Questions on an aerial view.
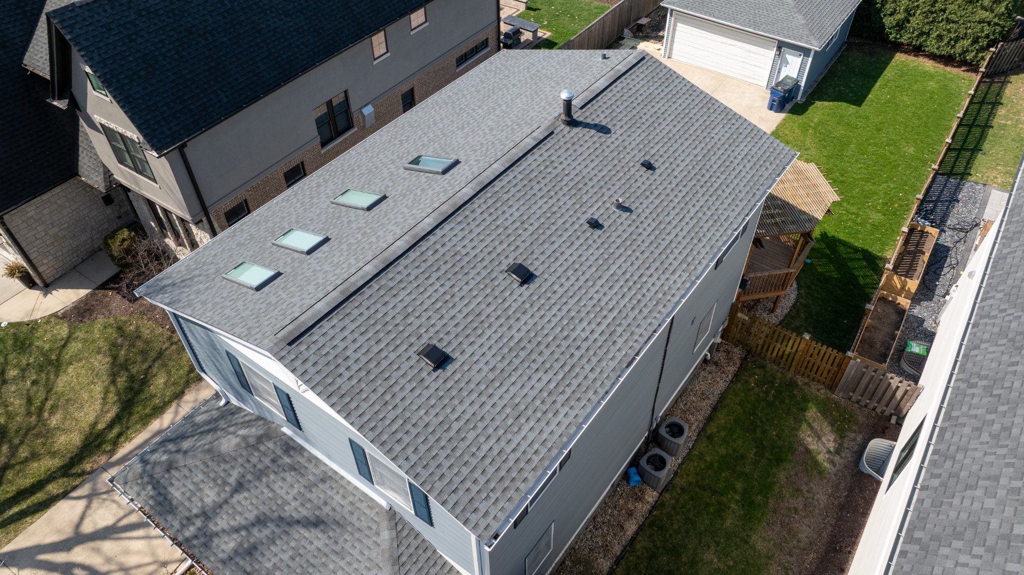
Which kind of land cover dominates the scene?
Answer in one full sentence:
Most of the picture is covered by buildings.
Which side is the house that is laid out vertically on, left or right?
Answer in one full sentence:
The house that is laid out vertically sits on the right side.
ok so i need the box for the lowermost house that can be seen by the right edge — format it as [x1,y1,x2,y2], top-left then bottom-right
[848,158,1024,575]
